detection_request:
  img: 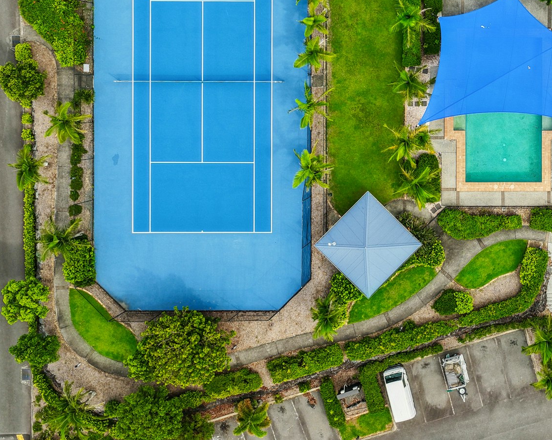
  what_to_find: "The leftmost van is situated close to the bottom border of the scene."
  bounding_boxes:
[381,360,415,429]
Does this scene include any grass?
Yes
